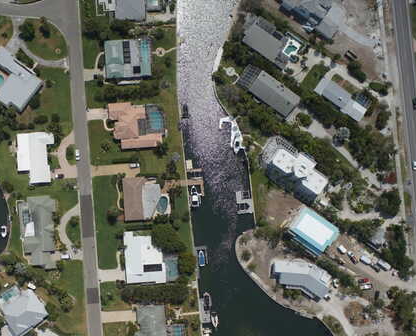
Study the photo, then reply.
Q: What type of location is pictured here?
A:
residential area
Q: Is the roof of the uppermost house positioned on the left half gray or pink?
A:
gray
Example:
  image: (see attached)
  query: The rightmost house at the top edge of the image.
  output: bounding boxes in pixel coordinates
[278,0,339,47]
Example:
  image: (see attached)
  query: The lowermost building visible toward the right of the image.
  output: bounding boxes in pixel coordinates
[272,261,332,301]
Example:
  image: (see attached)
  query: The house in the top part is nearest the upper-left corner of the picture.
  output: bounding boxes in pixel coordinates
[0,47,39,114]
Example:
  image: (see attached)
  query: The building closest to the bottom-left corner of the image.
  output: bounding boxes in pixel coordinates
[0,285,47,336]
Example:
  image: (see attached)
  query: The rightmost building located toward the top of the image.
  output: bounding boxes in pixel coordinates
[314,76,376,124]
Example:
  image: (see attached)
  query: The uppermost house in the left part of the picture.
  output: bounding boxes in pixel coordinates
[115,0,163,21]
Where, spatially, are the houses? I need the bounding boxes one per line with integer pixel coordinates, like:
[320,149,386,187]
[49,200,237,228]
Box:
[105,37,152,77]
[134,304,186,336]
[369,230,389,249]
[115,0,163,21]
[287,207,340,255]
[278,0,339,47]
[108,103,165,151]
[15,132,54,184]
[264,136,329,200]
[123,177,159,222]
[124,232,179,283]
[0,47,39,114]
[18,196,54,271]
[236,64,300,116]
[314,76,376,124]
[0,285,47,336]
[242,10,292,69]
[272,261,332,301]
